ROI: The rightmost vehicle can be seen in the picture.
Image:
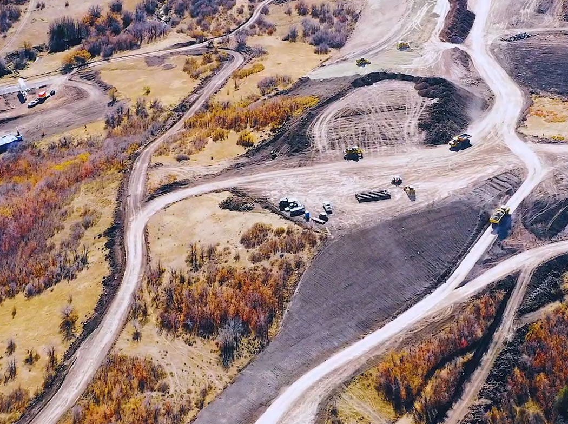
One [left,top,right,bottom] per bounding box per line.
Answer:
[490,205,512,225]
